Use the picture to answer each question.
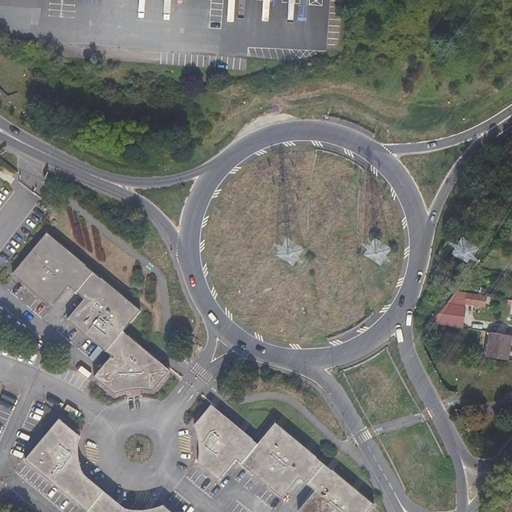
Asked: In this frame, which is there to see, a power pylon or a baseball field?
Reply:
power pylon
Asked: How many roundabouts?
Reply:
2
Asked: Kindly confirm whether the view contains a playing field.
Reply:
No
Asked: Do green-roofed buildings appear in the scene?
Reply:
No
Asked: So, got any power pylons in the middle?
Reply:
Yes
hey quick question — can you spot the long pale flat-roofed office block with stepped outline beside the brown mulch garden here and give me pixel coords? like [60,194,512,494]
[12,233,173,397]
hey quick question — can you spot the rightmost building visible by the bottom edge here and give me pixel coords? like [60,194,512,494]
[194,404,380,512]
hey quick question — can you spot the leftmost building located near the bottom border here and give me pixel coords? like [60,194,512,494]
[26,419,171,512]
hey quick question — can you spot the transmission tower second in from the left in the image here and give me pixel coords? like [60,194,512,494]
[362,240,394,267]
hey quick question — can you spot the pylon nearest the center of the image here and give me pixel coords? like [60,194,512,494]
[274,238,306,266]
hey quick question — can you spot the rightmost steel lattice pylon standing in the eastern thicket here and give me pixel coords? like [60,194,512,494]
[452,236,484,264]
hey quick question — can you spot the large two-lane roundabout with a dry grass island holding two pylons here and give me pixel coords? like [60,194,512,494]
[177,118,432,372]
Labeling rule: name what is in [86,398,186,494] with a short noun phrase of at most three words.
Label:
roundabout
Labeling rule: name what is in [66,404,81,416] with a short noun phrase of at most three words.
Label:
vehicle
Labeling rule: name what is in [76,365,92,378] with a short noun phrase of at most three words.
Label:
vehicle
